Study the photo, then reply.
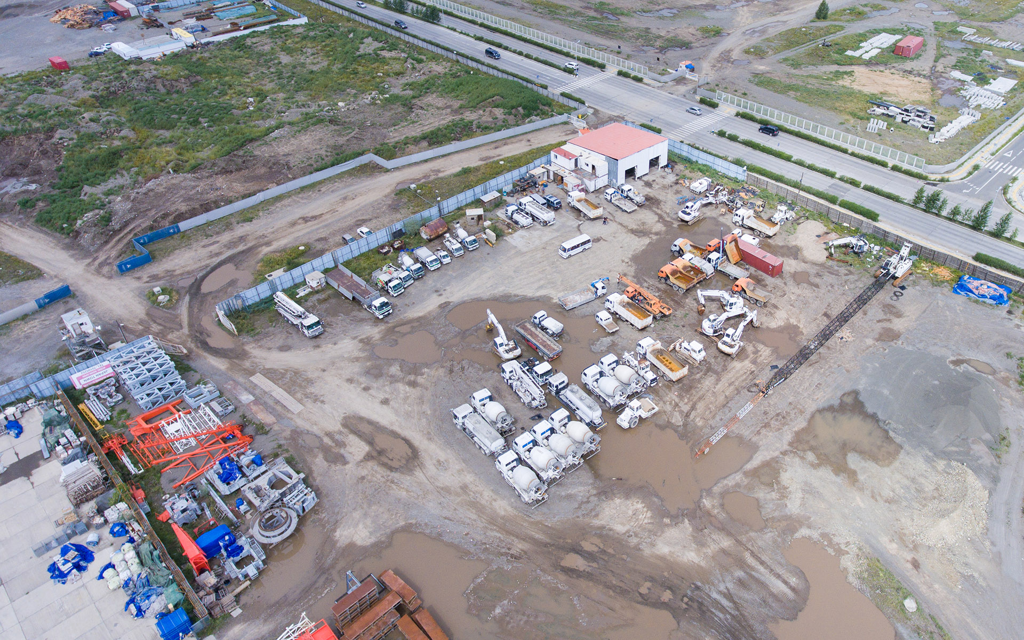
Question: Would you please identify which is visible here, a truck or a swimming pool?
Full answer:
Of the two, only a truck appears.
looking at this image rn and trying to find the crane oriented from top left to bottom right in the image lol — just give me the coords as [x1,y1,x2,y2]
[621,270,676,318]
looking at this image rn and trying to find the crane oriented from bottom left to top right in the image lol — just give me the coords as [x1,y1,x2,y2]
[694,237,920,459]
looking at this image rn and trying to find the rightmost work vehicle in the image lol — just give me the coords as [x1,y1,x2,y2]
[826,232,880,265]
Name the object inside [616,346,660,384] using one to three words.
work vehicle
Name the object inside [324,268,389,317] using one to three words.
truck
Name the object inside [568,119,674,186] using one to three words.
building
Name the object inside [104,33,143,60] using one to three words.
building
